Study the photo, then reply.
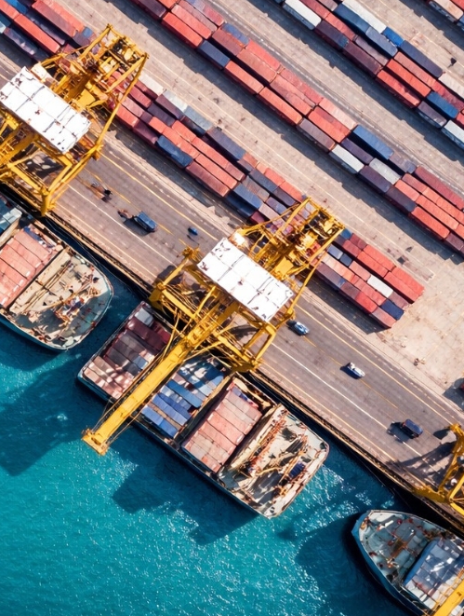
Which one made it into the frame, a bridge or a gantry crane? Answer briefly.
gantry crane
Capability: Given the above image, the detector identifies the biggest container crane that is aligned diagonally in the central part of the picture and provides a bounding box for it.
[76,182,342,460]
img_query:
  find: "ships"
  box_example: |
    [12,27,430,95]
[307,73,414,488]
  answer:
[0,192,115,354]
[348,508,464,616]
[76,302,327,519]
